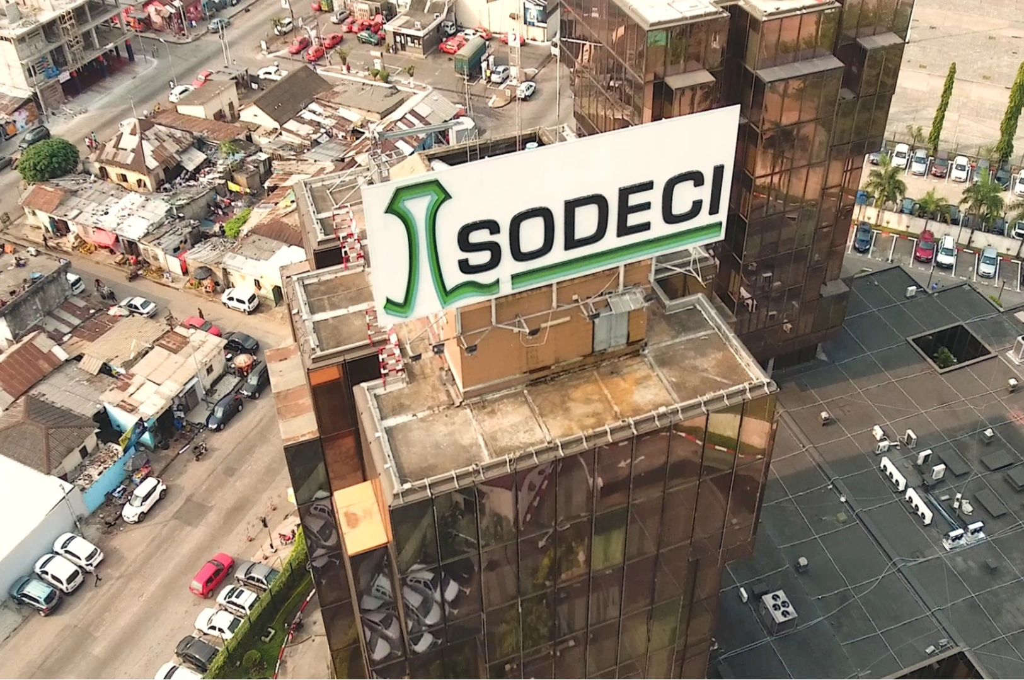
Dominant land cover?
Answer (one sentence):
For the most part, this view shows buildings.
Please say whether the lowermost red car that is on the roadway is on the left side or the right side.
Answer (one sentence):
The lowermost red car that is on the roadway sits on the left side.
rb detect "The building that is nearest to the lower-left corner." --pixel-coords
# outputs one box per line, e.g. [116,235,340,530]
[0,453,84,601]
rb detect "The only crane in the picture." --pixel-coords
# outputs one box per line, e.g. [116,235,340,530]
[379,112,490,173]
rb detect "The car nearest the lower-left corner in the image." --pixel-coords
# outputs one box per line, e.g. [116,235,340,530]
[10,579,61,614]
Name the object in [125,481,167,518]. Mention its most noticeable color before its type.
white car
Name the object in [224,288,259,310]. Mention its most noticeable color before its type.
white vehicle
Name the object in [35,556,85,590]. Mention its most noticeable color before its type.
white car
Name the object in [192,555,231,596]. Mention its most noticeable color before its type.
red car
